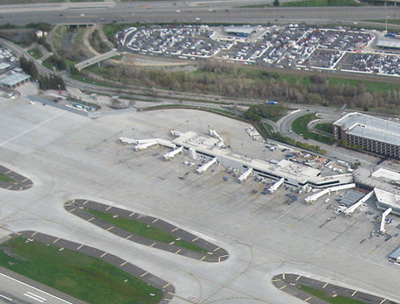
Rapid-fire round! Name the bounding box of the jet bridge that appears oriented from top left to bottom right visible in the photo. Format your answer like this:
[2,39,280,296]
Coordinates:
[208,128,225,143]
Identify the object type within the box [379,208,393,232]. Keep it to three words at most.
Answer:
jet bridge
